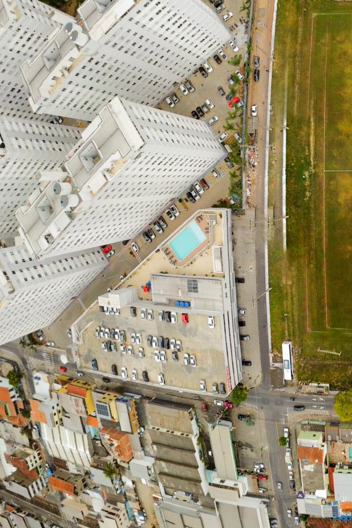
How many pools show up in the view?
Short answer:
1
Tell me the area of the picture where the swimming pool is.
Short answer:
center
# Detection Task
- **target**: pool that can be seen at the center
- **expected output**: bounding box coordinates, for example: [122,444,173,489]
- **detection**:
[163,217,212,267]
